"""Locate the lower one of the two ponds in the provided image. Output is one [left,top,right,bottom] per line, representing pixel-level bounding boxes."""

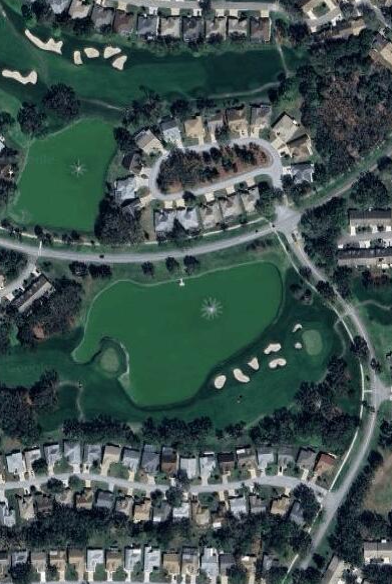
[76,262,281,404]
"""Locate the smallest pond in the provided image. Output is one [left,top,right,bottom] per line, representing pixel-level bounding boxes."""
[14,117,114,229]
